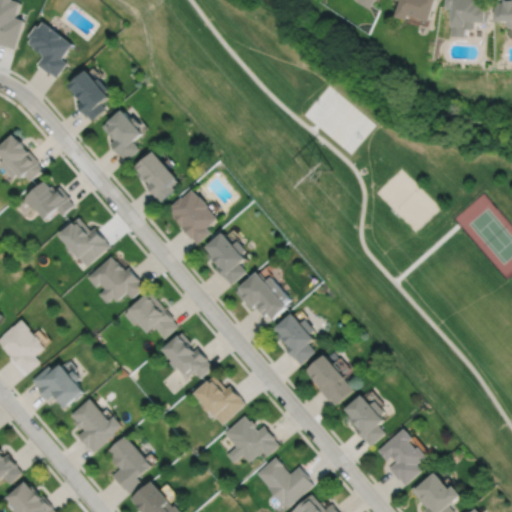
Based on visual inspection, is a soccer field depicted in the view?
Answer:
No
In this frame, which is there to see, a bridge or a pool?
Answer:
pool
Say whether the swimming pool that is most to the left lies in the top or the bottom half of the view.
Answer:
top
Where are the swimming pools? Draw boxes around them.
[201,172,240,213]
[442,8,494,65]
[498,39,512,68]
[62,4,100,41]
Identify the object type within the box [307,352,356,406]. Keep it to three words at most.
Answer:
house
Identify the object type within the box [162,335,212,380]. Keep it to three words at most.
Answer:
house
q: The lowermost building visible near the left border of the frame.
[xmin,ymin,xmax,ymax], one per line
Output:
[6,483,55,512]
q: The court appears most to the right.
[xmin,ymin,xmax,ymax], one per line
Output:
[456,193,512,279]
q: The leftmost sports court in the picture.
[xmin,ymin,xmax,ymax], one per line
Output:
[306,86,376,155]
